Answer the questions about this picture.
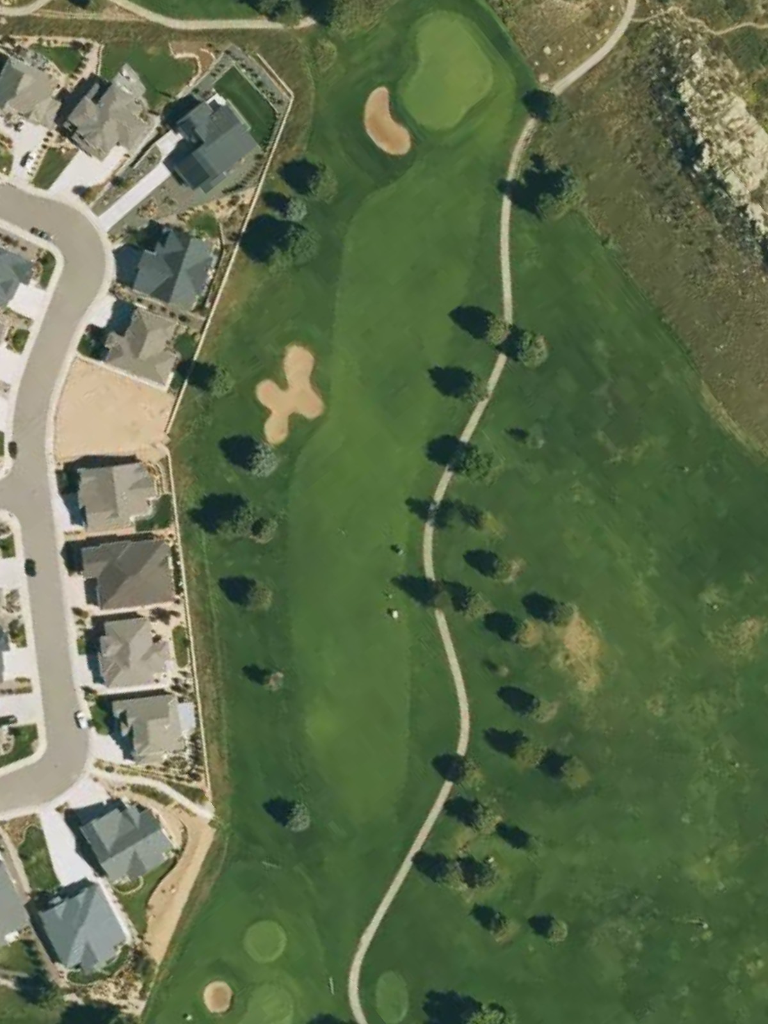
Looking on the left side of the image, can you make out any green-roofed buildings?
No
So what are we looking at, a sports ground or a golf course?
golf course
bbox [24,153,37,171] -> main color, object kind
white vehicle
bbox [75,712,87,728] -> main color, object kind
white vehicle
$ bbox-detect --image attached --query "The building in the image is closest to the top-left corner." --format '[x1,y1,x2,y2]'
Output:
[0,50,66,132]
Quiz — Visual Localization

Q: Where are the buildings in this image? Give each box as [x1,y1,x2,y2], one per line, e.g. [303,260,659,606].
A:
[81,538,176,610]
[128,224,215,310]
[80,463,158,532]
[57,56,162,163]
[0,864,34,951]
[98,618,171,688]
[0,248,32,311]
[111,696,185,770]
[99,302,179,388]
[39,880,127,972]
[0,50,66,132]
[76,802,171,887]
[171,102,256,193]
[0,625,9,680]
